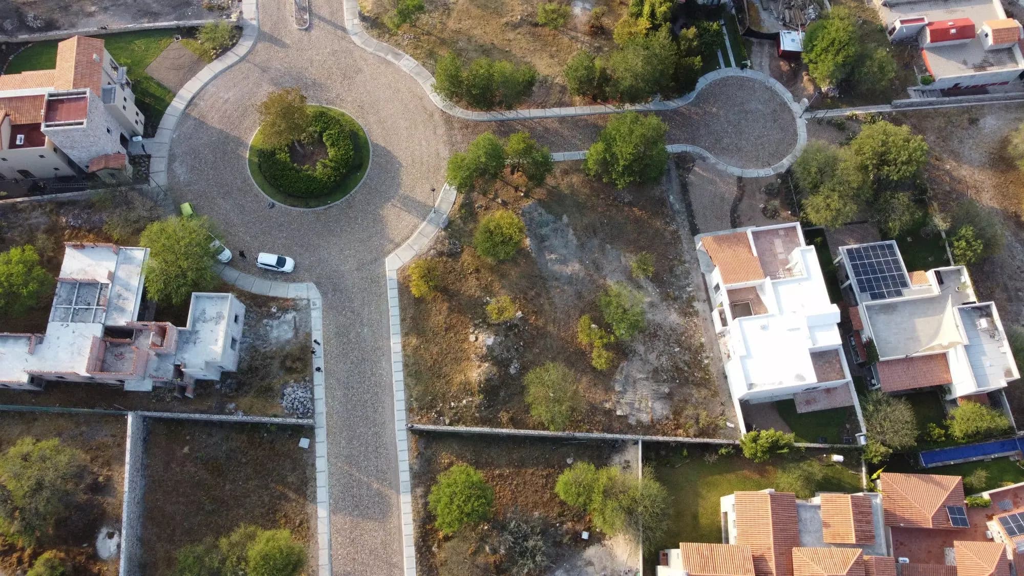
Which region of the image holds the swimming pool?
bottom right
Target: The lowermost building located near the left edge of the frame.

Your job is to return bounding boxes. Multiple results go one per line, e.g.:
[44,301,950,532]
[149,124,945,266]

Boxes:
[0,243,244,399]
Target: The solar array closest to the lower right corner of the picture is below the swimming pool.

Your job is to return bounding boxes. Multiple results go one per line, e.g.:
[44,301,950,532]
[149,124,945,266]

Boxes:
[998,512,1024,536]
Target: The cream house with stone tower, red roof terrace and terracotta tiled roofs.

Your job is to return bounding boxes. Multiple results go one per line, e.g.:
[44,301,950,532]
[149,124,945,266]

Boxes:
[0,34,144,183]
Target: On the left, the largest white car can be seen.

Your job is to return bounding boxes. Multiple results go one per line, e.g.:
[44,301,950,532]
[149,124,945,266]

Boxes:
[254,252,296,274]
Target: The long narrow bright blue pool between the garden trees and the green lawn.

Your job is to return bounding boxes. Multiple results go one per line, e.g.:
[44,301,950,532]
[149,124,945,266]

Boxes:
[917,438,1024,468]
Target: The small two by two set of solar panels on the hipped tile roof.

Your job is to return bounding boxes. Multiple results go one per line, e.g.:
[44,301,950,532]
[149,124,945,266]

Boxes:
[946,506,969,527]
